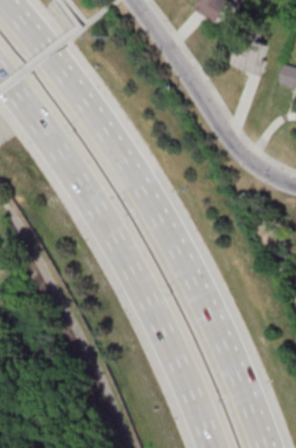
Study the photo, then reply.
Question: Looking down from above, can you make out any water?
No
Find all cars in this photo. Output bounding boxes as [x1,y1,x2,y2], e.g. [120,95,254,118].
[41,108,49,118]
[72,184,81,194]
[156,331,164,340]
[204,309,212,321]
[248,368,256,381]
[0,69,8,78]
[40,119,48,128]
[204,430,212,442]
